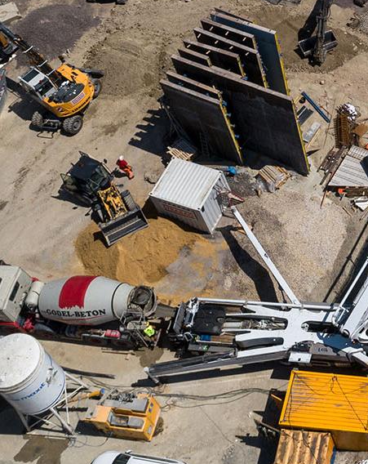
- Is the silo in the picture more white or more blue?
white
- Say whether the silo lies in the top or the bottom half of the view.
bottom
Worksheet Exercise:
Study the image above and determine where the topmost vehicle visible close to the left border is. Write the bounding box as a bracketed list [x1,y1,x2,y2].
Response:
[0,27,107,144]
